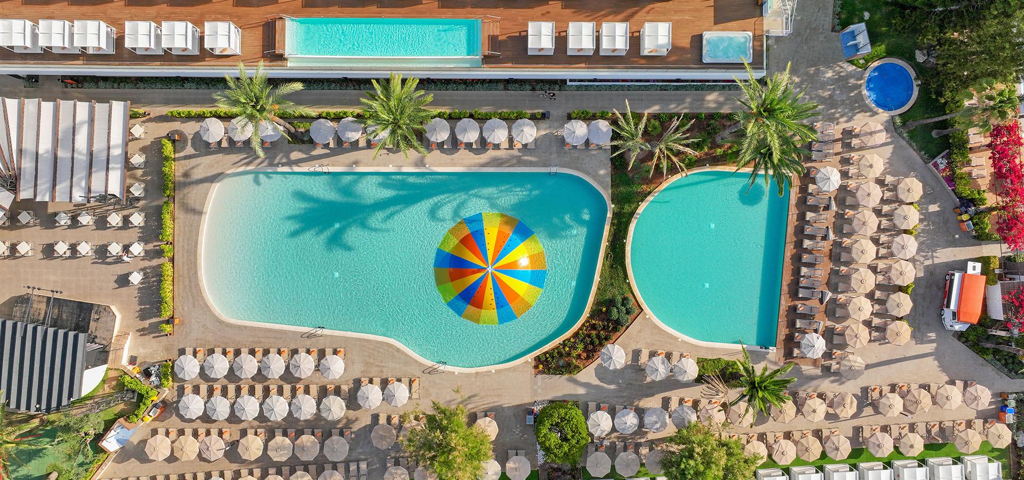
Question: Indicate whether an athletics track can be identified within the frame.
No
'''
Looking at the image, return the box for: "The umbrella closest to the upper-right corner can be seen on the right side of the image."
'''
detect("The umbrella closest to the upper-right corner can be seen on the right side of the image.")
[859,119,886,145]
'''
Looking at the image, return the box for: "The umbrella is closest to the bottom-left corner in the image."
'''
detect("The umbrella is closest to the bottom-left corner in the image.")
[144,434,170,459]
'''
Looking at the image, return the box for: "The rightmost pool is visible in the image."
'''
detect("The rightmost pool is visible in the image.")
[867,63,914,110]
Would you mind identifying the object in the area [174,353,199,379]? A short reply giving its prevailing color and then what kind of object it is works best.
white umbrella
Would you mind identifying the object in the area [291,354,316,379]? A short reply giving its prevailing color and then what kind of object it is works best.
white umbrella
